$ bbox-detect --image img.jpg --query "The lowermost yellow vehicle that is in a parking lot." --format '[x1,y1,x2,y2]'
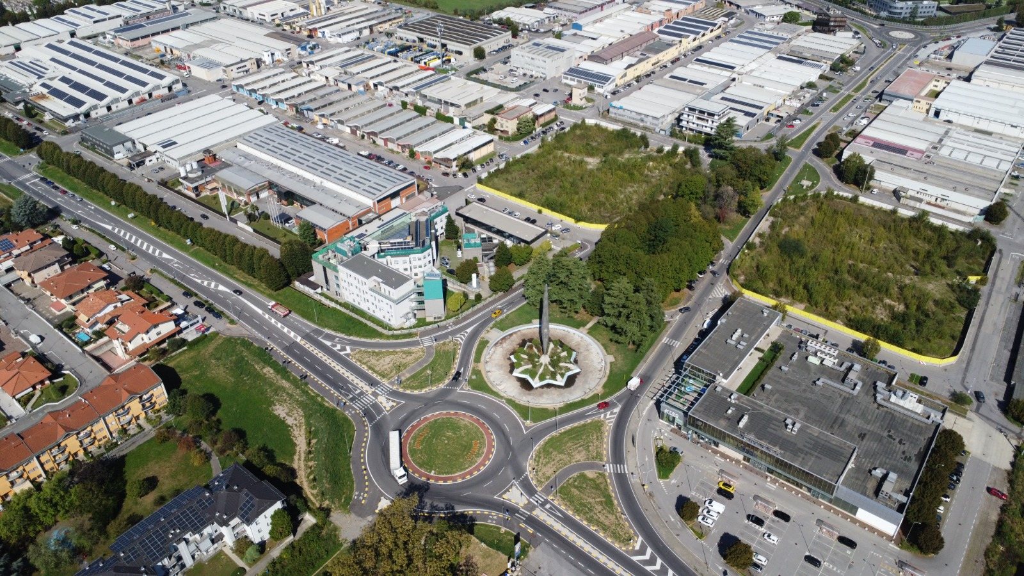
[718,481,736,494]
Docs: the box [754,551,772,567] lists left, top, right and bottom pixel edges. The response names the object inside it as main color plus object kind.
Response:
white car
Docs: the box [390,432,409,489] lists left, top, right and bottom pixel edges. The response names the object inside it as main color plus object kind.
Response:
white vehicle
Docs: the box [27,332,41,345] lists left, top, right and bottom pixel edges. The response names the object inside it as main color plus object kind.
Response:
white vehicle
